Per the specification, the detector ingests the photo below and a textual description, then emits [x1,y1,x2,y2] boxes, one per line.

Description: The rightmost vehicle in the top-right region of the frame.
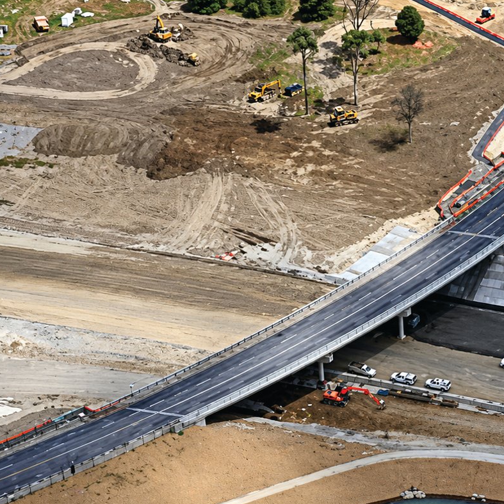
[475,7,496,24]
